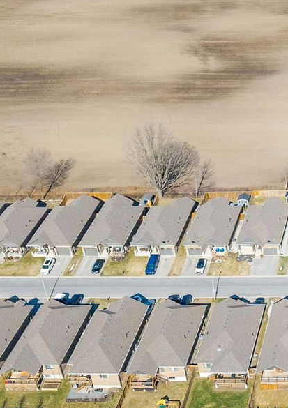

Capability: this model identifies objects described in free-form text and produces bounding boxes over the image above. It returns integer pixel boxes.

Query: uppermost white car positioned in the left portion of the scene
[39,259,53,272]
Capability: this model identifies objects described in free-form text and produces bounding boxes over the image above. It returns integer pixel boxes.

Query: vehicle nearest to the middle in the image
[144,257,158,273]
